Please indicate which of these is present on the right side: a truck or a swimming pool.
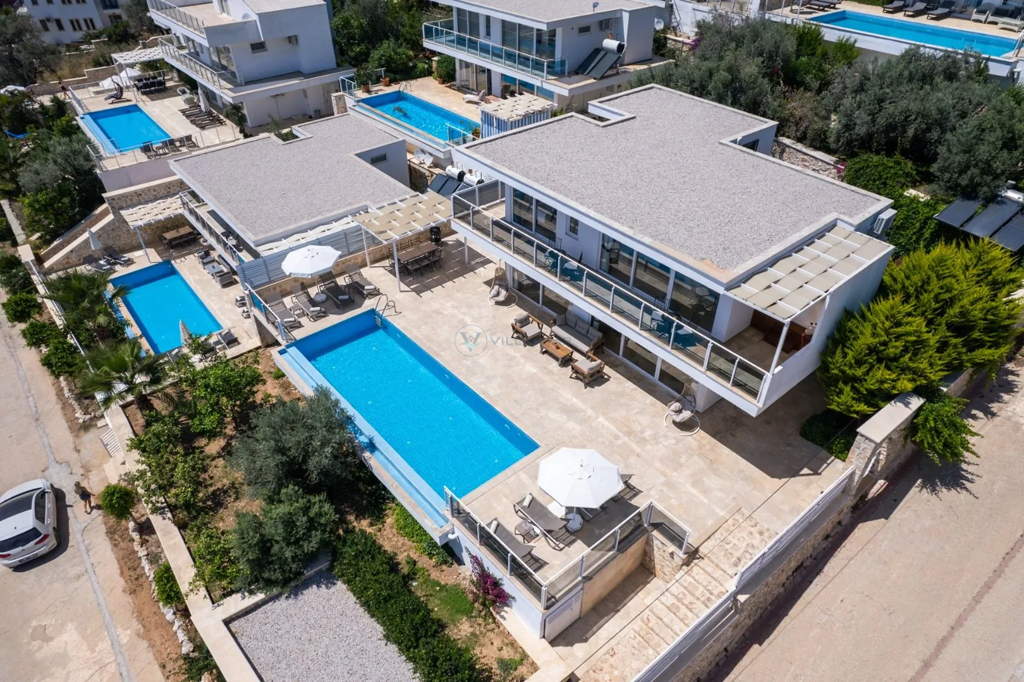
swimming pool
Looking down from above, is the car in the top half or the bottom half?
bottom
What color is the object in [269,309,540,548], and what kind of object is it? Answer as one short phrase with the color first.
blue swimming pool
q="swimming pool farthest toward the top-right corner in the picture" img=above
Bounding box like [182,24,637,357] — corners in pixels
[817,10,1018,55]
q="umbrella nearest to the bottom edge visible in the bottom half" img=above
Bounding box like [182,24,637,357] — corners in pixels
[536,442,624,530]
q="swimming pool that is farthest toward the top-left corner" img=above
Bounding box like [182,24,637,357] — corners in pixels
[77,105,175,153]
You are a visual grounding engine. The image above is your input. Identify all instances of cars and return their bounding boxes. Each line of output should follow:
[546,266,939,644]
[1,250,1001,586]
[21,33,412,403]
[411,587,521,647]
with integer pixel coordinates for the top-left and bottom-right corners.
[0,476,60,565]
